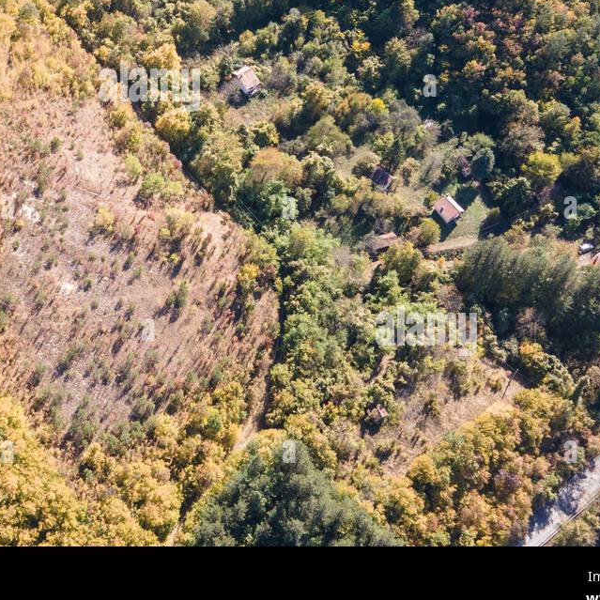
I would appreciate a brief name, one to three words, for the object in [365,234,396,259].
shed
